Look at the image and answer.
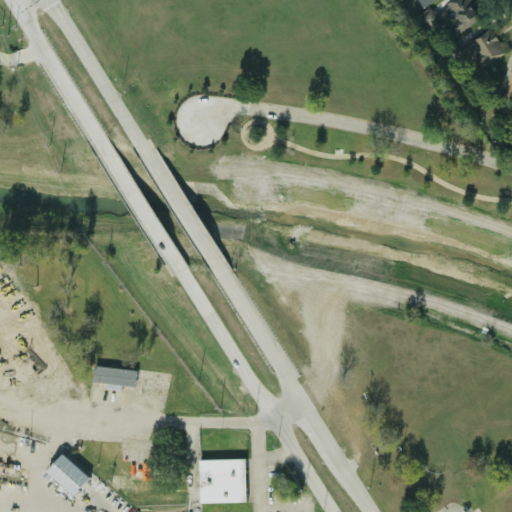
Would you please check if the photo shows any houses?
Yes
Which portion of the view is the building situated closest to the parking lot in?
bottom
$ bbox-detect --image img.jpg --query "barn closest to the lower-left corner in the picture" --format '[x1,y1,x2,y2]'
[46,454,89,496]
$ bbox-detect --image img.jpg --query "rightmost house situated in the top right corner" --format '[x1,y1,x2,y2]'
[476,27,506,62]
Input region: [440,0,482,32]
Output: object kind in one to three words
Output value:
house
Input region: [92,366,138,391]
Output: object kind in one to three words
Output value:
shed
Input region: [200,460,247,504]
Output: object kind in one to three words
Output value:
building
